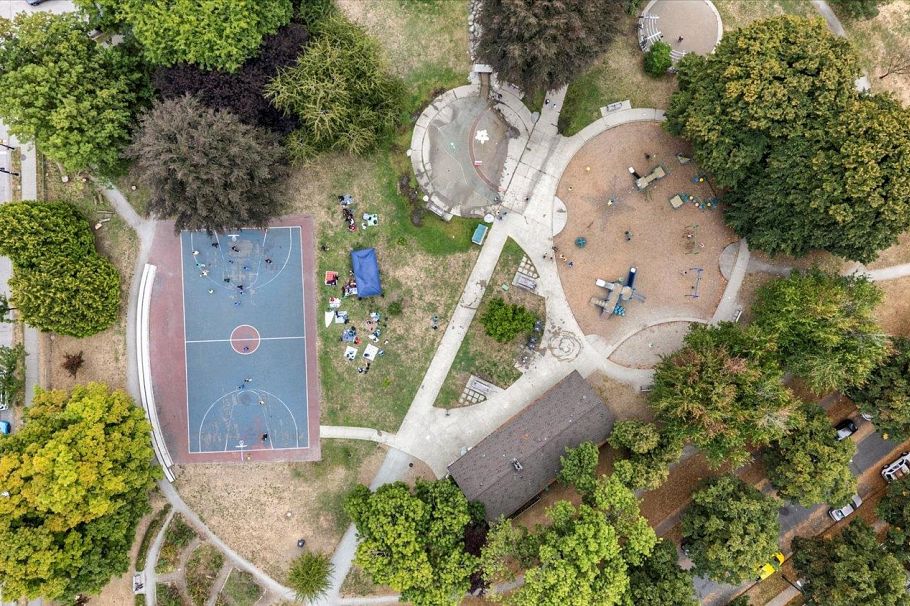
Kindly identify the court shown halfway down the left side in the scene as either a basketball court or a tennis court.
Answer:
basketball court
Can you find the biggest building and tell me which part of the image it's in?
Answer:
bottom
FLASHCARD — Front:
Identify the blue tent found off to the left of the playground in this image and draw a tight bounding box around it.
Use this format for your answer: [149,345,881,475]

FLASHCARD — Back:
[352,248,386,299]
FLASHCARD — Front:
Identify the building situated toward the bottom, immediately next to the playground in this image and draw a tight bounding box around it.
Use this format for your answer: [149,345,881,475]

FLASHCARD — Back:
[447,369,613,530]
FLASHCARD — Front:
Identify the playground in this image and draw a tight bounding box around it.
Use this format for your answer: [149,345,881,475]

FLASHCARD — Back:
[555,121,746,345]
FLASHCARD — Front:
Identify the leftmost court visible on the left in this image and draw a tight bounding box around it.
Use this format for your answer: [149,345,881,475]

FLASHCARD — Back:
[150,214,322,464]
